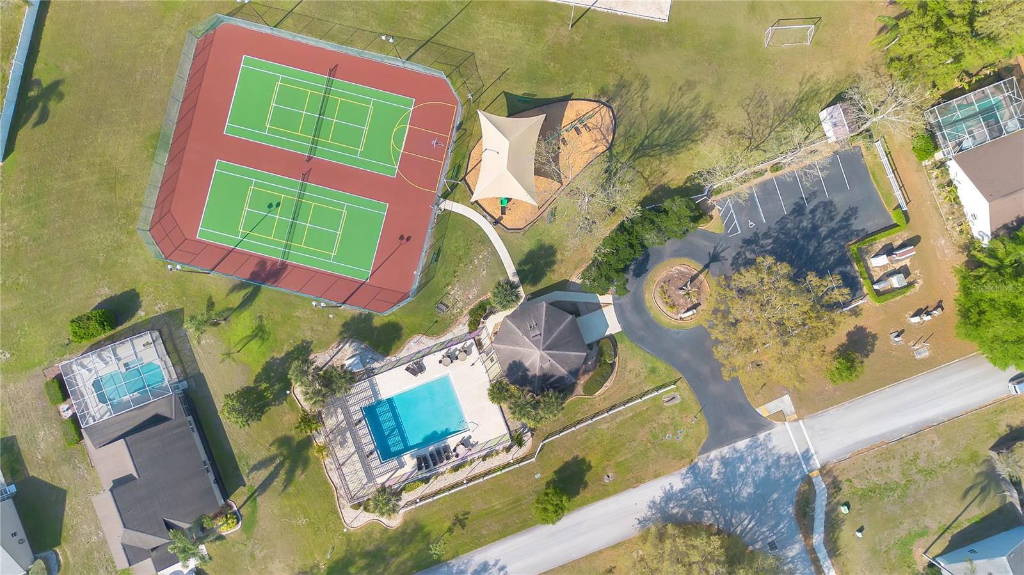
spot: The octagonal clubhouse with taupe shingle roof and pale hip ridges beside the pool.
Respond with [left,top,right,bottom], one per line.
[494,303,591,398]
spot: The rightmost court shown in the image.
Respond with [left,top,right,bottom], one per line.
[551,0,672,21]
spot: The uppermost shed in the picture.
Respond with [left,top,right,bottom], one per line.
[812,100,865,145]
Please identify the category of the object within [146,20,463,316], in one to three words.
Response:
sports court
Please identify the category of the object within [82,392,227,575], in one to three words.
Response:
house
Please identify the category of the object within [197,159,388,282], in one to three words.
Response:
tennis court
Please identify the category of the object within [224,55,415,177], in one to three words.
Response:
tennis court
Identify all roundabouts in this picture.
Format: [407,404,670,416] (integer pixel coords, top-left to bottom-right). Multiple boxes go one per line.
[625,238,730,350]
